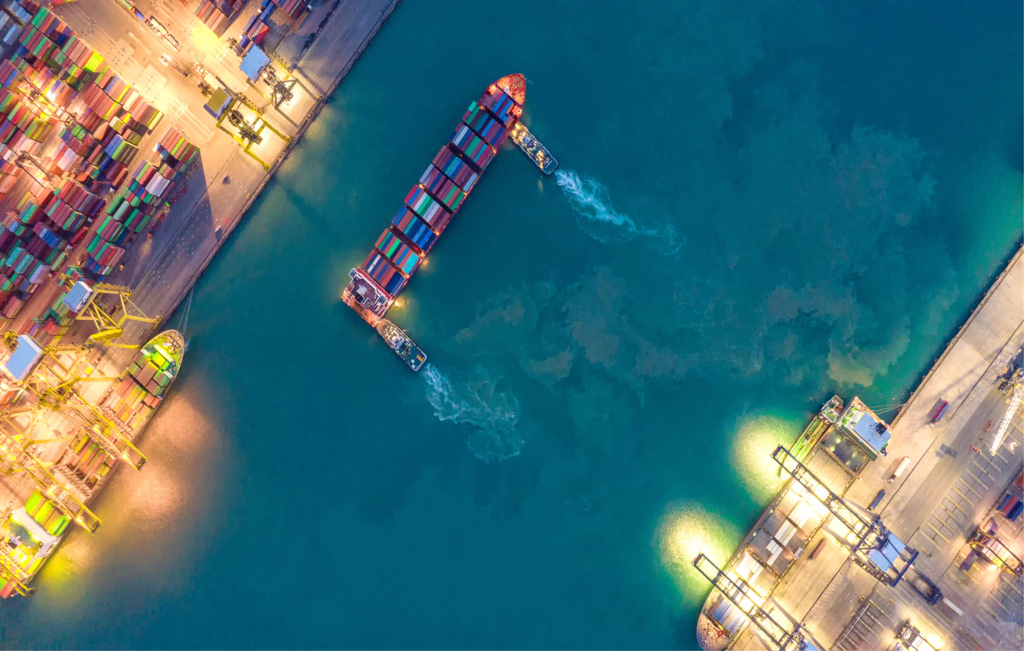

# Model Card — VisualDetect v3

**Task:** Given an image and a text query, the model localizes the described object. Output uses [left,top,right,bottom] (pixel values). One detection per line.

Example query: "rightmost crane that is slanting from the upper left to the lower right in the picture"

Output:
[956,521,1024,577]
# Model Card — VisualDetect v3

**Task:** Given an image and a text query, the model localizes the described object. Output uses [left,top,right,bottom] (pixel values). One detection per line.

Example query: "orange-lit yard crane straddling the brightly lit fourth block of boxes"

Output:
[14,74,82,124]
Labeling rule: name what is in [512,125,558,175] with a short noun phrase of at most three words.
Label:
boat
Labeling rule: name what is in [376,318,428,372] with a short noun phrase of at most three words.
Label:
boat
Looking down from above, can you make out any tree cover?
No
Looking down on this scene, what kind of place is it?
port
